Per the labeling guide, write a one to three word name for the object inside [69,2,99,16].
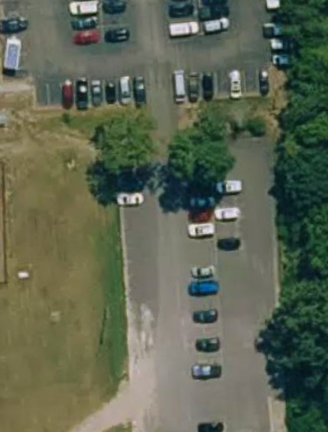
vehicle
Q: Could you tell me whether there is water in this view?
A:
No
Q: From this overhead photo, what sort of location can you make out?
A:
parking lot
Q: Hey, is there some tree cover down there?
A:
Yes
